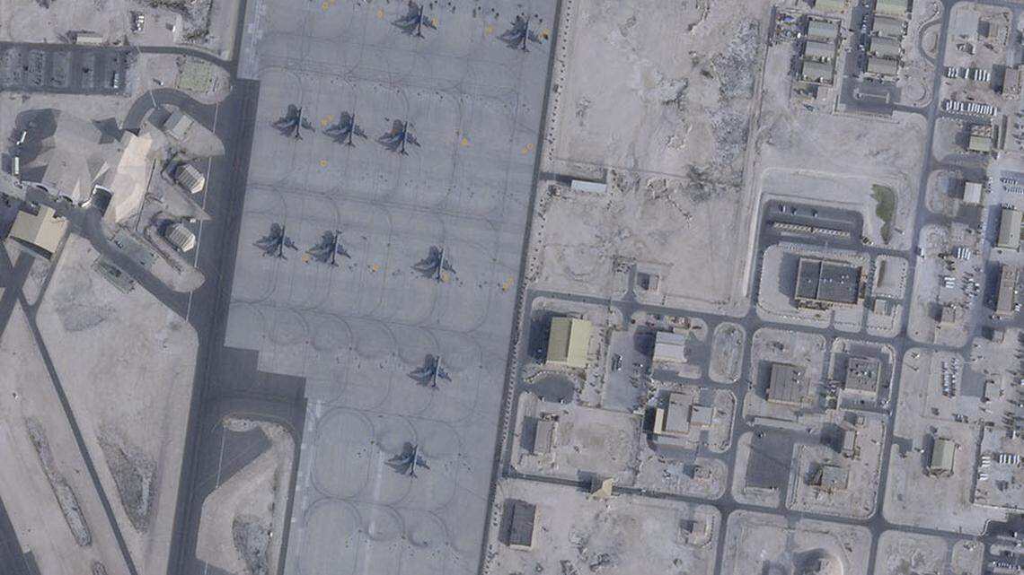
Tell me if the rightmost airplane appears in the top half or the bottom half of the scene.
top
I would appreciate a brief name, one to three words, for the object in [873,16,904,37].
shed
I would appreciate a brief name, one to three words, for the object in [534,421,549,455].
building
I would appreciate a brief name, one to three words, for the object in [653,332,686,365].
building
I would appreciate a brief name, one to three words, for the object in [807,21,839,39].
shed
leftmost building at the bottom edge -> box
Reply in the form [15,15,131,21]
[509,504,536,547]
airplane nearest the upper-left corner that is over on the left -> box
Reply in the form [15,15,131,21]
[281,107,315,138]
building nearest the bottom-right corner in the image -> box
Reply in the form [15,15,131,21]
[930,437,955,472]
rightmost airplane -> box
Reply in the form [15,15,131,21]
[509,17,543,48]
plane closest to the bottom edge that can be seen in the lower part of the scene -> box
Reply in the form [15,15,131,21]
[396,445,431,477]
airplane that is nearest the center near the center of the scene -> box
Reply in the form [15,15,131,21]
[422,249,456,280]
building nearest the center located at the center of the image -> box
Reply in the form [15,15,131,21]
[546,316,591,370]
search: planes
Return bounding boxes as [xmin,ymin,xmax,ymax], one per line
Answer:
[418,356,452,388]
[422,249,456,280]
[403,6,437,36]
[334,113,368,144]
[387,123,421,153]
[509,17,543,48]
[396,445,431,477]
[317,233,352,264]
[264,226,298,257]
[281,107,315,138]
